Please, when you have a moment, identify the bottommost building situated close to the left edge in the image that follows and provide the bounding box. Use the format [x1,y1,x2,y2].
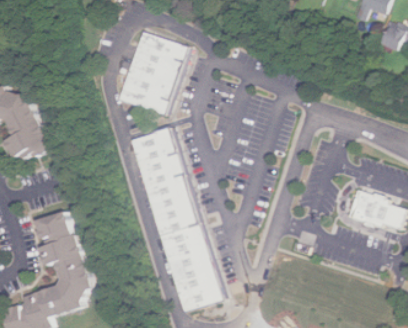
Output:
[6,212,96,328]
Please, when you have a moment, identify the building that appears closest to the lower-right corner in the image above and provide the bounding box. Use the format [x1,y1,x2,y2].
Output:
[350,190,408,230]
